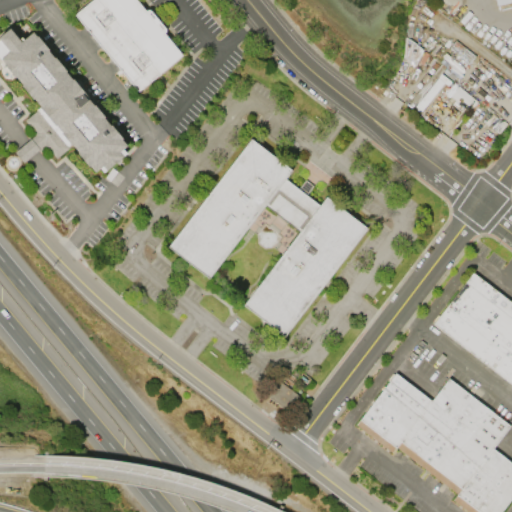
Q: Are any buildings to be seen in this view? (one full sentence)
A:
Yes, a building is visible in the scene.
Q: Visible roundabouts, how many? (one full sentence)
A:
The count of roundabouts is 0.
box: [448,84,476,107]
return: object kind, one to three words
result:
shed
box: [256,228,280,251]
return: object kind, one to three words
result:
gazebo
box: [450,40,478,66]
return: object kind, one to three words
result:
shed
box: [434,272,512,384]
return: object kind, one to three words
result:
building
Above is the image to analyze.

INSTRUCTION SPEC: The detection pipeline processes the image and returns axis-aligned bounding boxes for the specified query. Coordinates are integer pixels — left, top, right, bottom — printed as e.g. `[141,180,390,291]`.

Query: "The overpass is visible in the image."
[0,454,286,512]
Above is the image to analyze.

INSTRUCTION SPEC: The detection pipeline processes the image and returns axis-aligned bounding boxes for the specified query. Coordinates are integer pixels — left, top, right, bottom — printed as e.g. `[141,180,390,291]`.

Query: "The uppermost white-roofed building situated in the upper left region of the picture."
[76,0,184,92]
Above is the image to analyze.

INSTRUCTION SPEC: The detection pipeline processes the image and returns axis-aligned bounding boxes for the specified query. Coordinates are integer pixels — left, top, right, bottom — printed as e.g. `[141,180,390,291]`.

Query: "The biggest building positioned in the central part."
[169,138,370,334]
